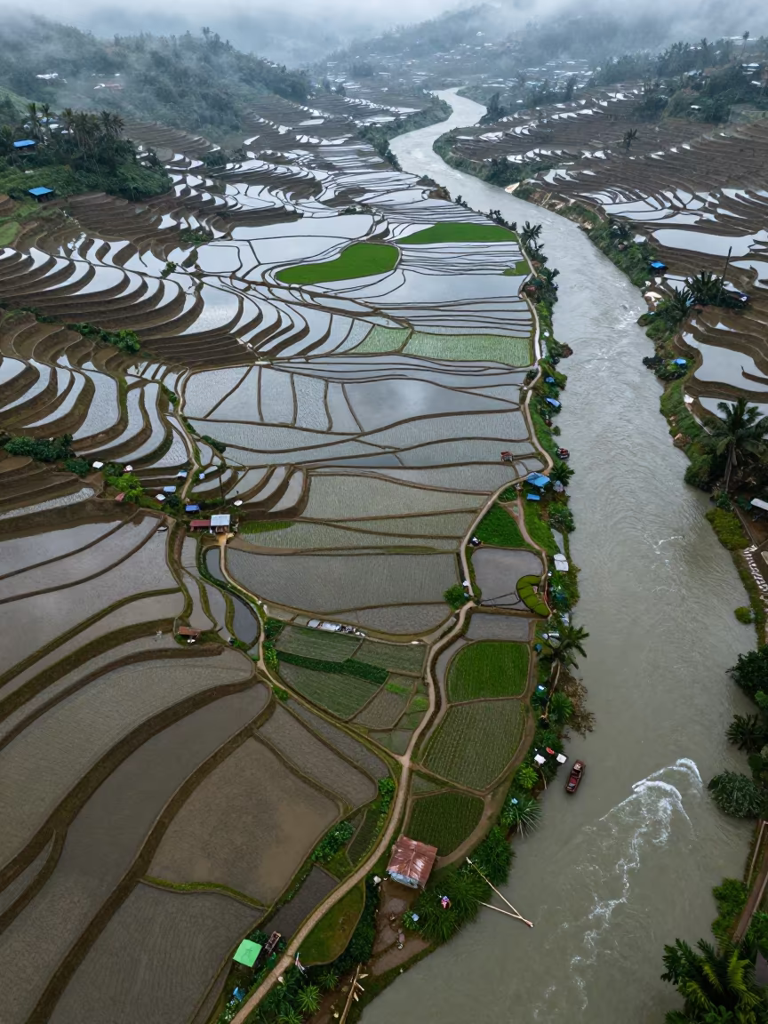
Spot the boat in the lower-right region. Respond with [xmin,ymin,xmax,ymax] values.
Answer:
[565,759,584,794]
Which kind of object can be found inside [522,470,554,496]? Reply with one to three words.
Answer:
shed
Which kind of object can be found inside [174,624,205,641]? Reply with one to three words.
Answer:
shed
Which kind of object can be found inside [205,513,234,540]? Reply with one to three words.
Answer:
house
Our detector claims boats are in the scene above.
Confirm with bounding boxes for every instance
[565,759,584,794]
[555,449,570,458]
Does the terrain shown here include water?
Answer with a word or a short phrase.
Yes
